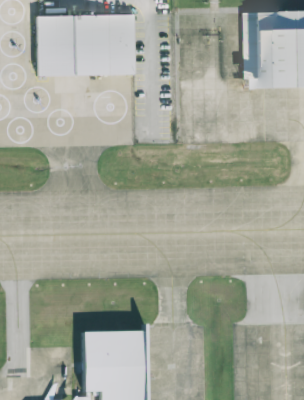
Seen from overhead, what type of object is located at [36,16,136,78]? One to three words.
hangar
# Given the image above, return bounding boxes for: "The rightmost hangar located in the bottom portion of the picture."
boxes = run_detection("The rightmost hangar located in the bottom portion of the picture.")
[82,326,150,400]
